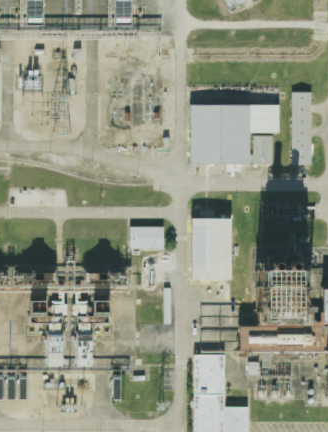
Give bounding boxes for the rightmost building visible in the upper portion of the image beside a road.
[292,92,312,166]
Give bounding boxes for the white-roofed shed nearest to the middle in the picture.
[130,227,164,250]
